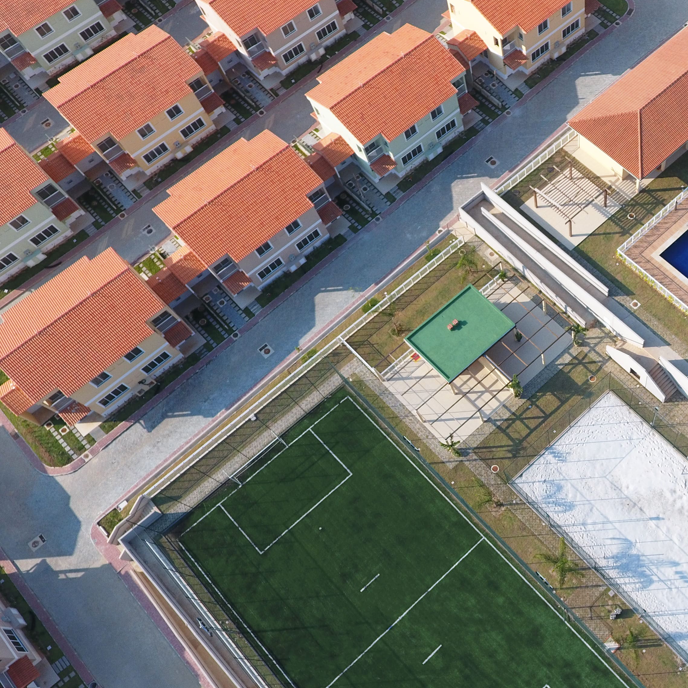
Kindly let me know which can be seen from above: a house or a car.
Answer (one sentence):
The one in the frame is a house.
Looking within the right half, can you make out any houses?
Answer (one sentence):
Yes, there is a house within the right half.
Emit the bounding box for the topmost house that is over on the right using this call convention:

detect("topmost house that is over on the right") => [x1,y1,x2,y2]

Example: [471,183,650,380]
[440,0,608,94]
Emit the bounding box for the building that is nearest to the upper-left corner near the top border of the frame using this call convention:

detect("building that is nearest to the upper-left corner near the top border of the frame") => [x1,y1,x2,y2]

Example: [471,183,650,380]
[0,0,140,92]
